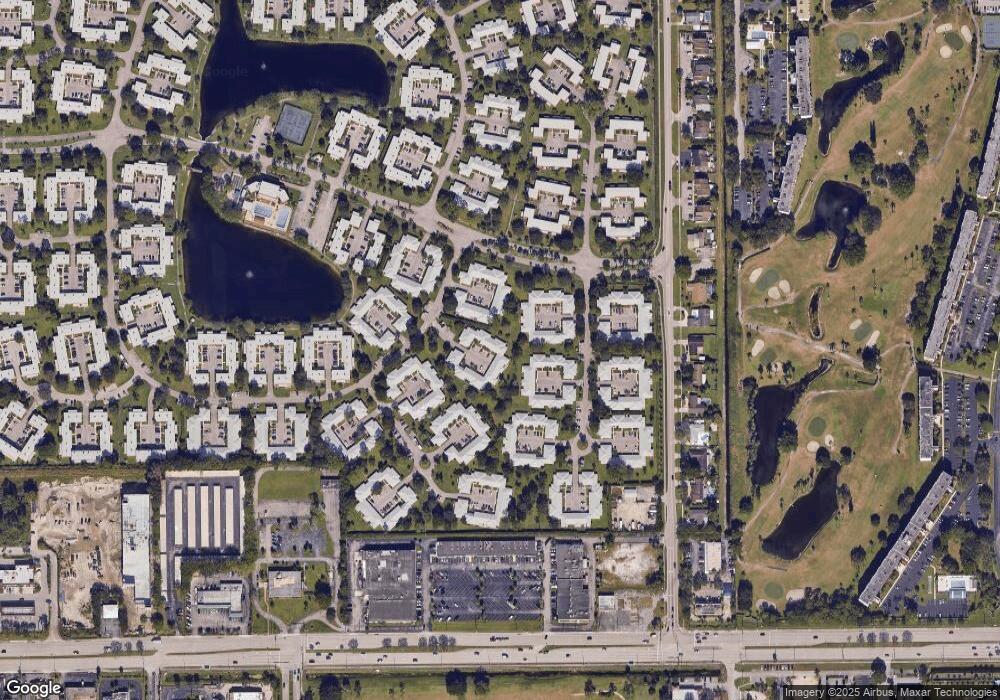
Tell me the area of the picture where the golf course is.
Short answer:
right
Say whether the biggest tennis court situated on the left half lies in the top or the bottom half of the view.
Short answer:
top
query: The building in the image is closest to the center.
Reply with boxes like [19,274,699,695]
[443,326,509,389]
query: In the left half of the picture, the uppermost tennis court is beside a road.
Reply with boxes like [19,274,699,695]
[272,103,312,144]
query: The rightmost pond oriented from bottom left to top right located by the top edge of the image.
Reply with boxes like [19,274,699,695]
[819,31,903,154]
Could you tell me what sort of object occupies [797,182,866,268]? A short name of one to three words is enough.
pond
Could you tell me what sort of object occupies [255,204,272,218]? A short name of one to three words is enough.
swimming pool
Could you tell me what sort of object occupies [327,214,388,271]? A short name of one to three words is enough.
building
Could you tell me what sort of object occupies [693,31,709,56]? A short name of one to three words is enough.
house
